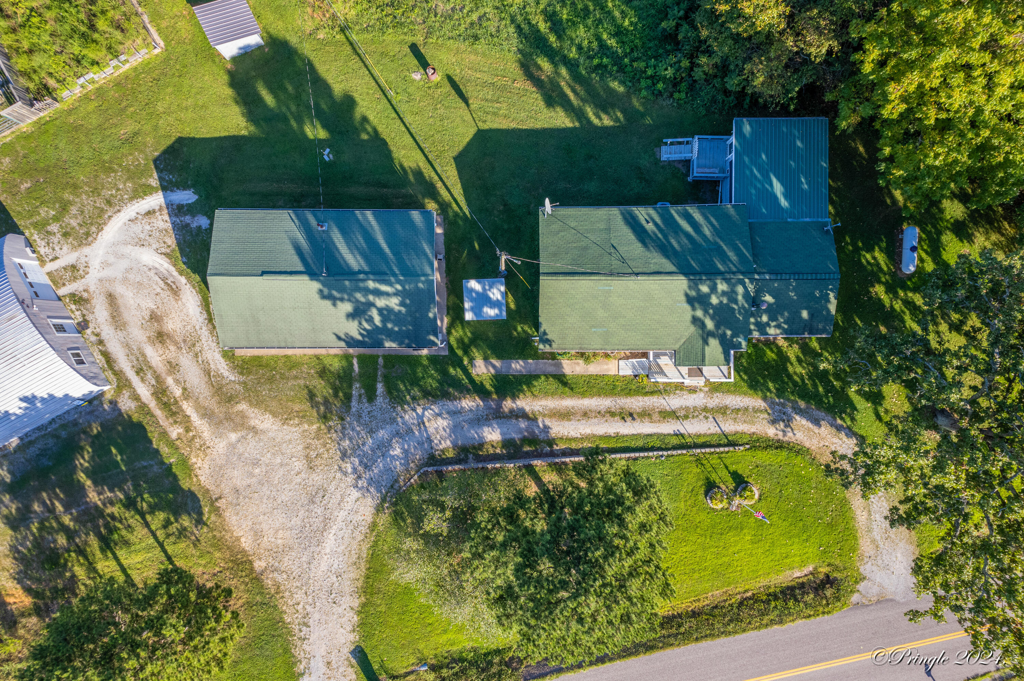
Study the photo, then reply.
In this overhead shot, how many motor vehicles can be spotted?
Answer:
0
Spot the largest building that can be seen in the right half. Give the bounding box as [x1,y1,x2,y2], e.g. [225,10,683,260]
[532,117,841,367]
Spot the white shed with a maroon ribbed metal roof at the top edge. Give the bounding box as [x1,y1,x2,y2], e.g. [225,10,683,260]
[189,0,265,61]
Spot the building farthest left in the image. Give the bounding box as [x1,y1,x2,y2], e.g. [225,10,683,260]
[0,233,113,449]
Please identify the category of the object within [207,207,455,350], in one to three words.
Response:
building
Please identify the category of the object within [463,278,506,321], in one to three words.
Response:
shed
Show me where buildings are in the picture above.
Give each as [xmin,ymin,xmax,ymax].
[463,278,506,321]
[532,117,841,367]
[189,0,265,61]
[207,207,455,350]
[0,233,113,449]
